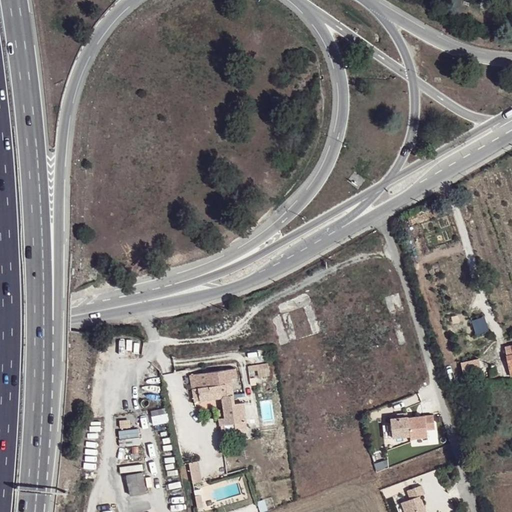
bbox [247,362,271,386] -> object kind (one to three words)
house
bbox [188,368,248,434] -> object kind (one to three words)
house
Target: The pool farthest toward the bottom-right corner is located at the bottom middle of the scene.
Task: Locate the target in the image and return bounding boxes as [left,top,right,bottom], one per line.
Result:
[258,399,274,424]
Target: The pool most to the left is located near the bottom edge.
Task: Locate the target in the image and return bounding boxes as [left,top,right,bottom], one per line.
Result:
[211,482,242,502]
